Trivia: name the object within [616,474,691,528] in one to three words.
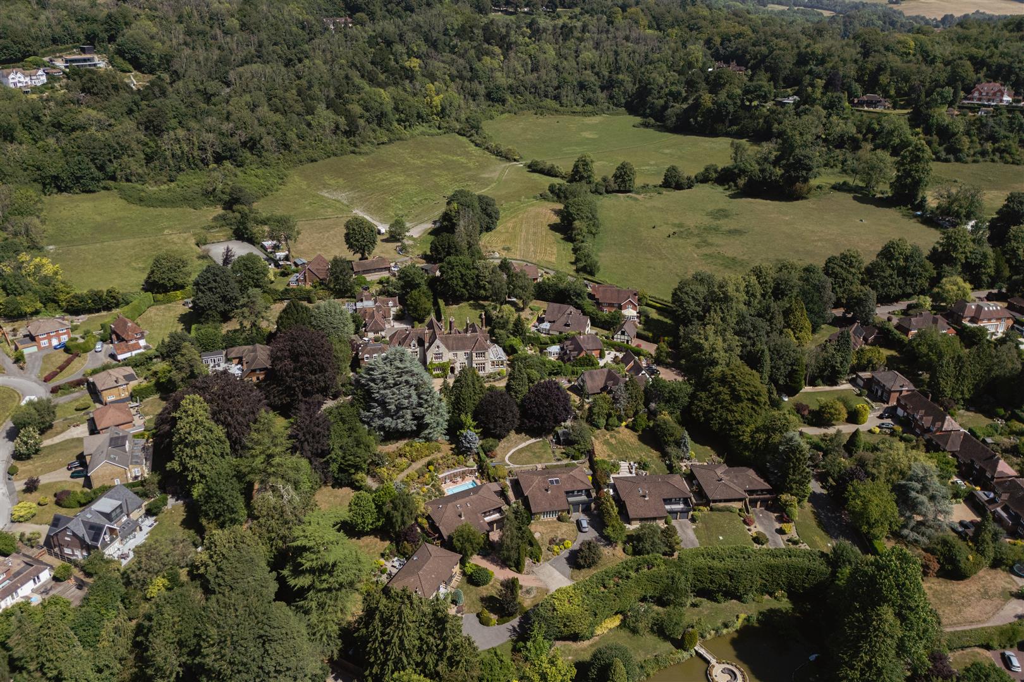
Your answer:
house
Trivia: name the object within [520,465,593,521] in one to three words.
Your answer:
house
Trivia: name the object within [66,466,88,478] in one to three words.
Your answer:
vehicle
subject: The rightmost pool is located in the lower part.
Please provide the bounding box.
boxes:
[445,480,472,497]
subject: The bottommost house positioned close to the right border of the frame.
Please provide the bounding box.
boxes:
[966,479,1024,532]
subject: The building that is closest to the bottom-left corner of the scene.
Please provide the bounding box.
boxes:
[0,543,49,606]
